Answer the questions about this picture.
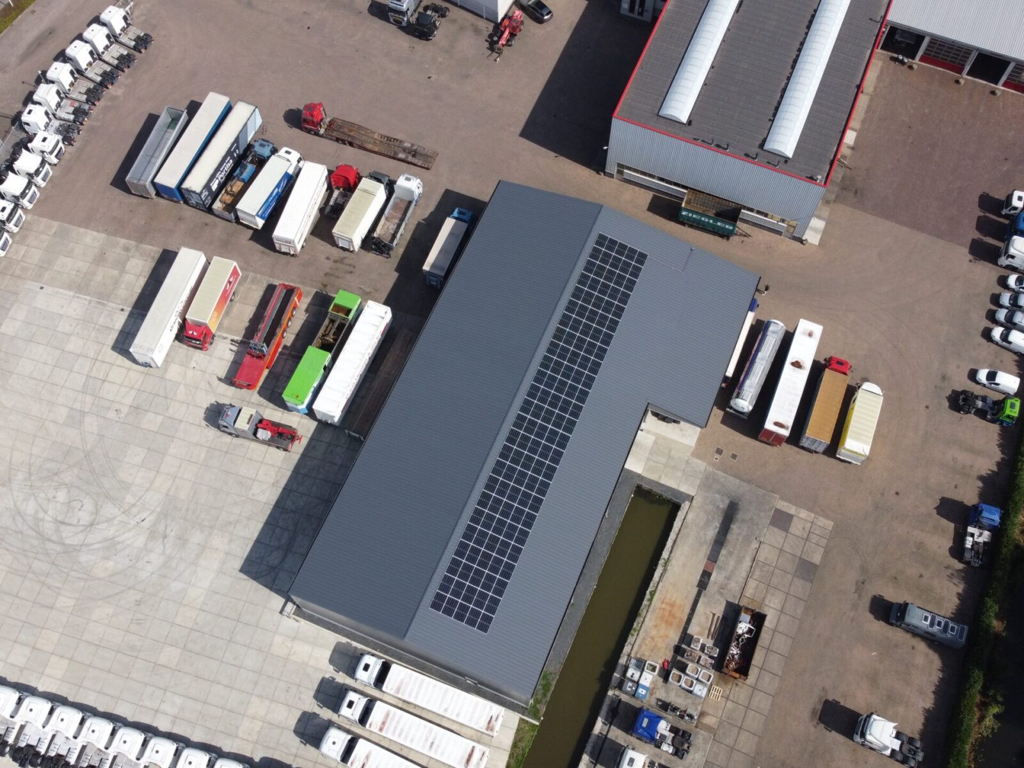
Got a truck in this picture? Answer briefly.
Yes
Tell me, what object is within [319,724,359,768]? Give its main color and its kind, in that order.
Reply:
white truck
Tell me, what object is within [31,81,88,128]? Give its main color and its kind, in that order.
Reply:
white truck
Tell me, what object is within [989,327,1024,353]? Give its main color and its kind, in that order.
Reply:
white vehicle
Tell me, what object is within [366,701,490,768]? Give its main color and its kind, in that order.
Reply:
white trailer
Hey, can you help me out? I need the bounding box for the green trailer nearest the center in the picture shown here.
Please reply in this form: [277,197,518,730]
[283,290,363,411]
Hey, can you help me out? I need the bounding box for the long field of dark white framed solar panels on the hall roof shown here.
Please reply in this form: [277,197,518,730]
[432,234,648,633]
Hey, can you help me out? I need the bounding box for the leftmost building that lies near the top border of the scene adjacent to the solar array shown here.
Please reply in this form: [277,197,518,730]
[599,0,893,241]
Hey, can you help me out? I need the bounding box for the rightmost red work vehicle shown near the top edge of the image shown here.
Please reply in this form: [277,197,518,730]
[493,10,524,61]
